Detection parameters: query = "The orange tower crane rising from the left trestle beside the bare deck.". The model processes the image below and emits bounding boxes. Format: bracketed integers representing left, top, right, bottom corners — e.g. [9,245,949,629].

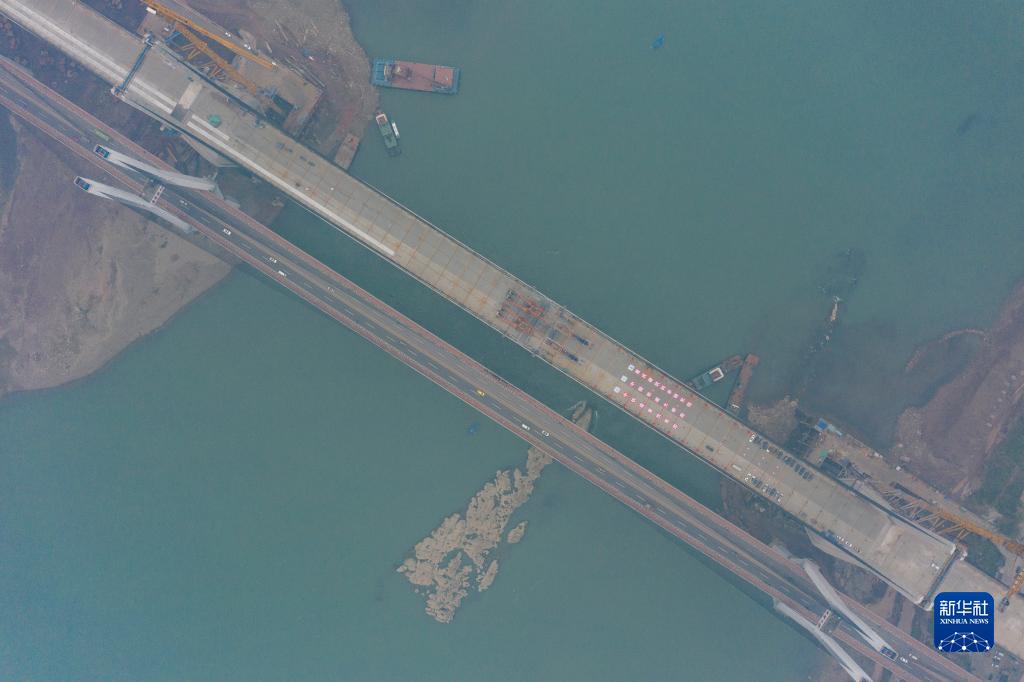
[140,0,275,100]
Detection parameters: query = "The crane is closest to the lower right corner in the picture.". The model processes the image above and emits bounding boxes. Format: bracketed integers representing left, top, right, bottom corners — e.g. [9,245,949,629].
[861,479,1024,606]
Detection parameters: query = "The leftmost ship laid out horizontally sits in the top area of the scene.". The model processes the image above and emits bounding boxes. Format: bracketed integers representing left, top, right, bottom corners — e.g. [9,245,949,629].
[371,57,460,94]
